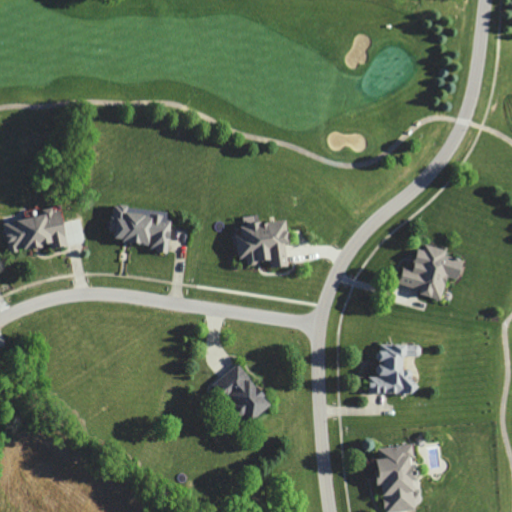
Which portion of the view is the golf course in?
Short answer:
top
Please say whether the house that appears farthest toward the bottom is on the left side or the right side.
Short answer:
right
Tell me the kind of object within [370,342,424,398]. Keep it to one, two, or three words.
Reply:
house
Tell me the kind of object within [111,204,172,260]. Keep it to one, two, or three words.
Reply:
house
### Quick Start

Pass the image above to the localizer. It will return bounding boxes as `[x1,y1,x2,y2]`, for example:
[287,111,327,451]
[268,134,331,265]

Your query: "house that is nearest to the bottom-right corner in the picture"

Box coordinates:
[376,444,422,512]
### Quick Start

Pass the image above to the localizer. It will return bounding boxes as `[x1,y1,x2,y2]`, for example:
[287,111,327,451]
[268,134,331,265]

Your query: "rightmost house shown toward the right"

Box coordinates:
[401,244,466,299]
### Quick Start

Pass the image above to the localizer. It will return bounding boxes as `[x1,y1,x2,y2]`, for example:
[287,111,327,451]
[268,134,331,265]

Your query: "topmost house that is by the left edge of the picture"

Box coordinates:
[4,205,67,252]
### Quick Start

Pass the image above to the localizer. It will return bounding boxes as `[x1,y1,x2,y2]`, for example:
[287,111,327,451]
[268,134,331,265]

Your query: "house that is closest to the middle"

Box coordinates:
[235,214,290,268]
